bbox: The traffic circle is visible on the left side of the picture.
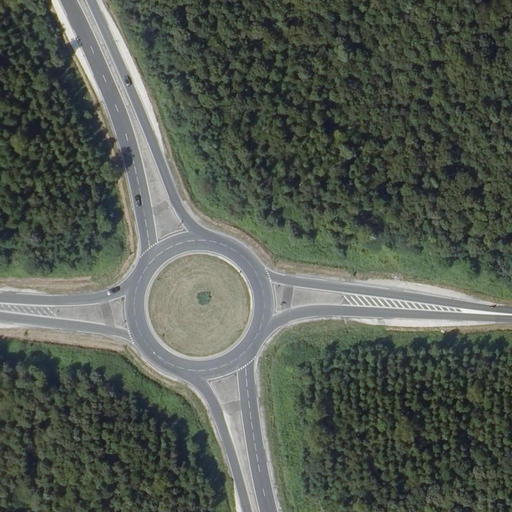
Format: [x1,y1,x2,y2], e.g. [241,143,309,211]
[123,229,276,382]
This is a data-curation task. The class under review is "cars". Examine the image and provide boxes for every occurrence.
[124,75,132,86]
[136,195,142,206]
[108,287,120,294]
